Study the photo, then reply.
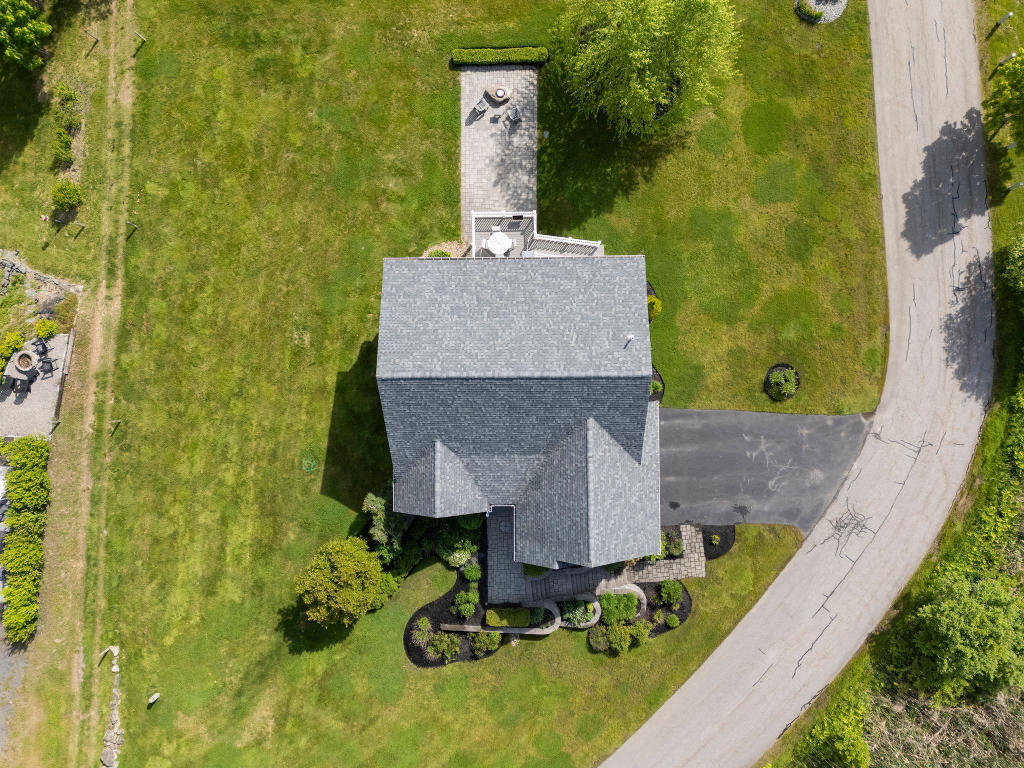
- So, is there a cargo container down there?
No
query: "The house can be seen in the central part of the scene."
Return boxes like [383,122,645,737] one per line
[377,252,663,569]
